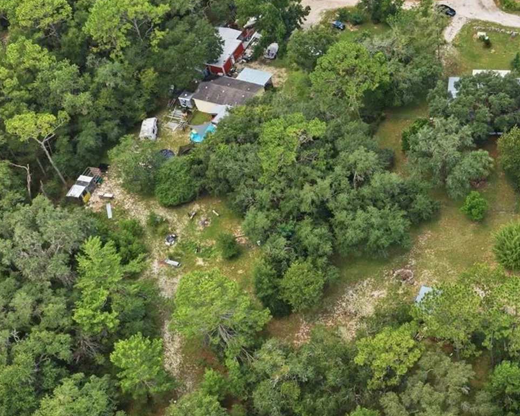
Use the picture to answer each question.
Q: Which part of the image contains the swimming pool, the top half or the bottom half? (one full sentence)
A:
It is in the top half that the swimming pool appears.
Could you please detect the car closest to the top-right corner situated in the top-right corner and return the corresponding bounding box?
[435,0,456,13]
